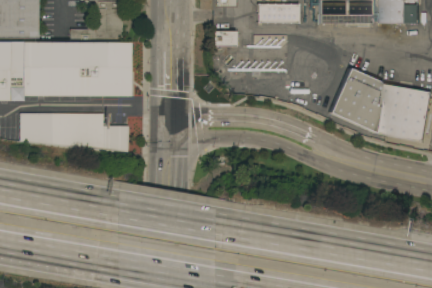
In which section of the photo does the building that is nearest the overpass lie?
left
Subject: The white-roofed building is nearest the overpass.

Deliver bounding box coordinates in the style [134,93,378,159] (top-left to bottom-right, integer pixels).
[20,113,128,152]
